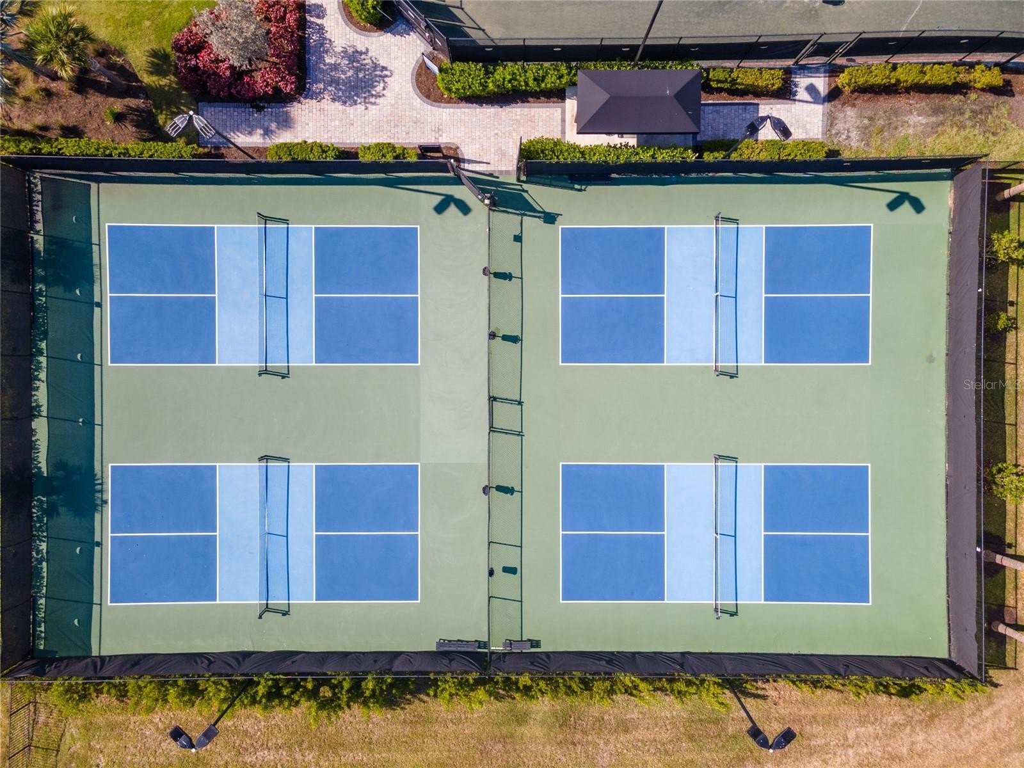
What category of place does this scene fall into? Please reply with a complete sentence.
The picture captures a sports ground.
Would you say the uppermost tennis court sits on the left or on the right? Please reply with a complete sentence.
The uppermost tennis court sits on the right side.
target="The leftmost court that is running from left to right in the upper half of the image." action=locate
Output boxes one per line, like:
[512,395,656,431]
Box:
[106,219,420,366]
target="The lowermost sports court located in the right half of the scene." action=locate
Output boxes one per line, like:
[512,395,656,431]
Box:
[561,458,872,609]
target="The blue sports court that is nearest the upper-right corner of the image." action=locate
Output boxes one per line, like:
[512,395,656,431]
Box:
[560,219,873,371]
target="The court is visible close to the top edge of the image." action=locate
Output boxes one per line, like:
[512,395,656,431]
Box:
[394,0,1024,68]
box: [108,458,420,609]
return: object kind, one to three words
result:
sports court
